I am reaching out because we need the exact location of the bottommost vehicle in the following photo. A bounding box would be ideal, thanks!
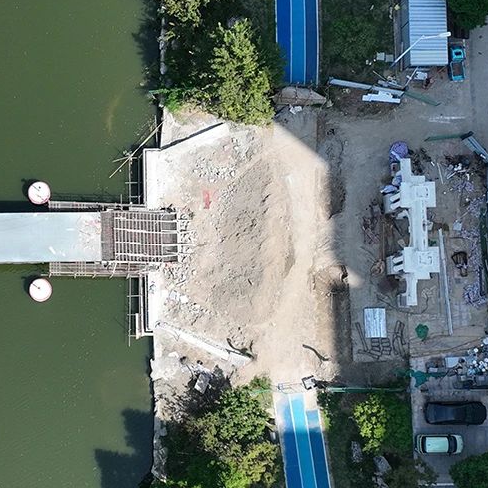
[412,432,461,458]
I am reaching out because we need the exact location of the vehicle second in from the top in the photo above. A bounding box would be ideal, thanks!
[421,399,486,428]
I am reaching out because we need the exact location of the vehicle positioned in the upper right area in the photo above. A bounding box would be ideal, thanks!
[443,42,468,81]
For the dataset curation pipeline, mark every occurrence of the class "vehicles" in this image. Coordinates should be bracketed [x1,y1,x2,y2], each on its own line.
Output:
[443,42,468,81]
[412,432,461,458]
[421,399,486,428]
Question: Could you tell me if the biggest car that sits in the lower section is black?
Yes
